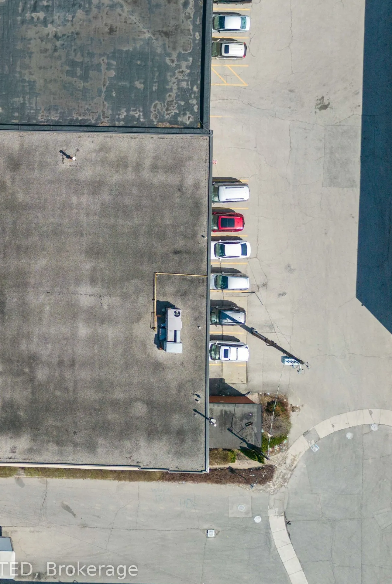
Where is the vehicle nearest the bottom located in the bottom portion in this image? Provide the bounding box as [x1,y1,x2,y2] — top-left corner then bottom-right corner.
[210,338,252,364]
